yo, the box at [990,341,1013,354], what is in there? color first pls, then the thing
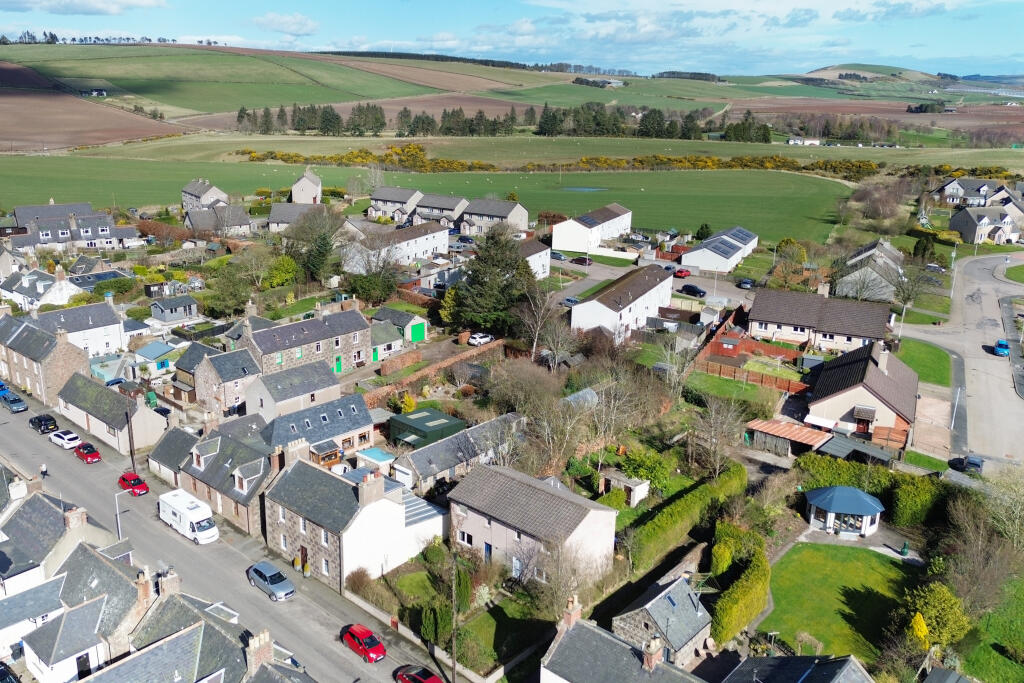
blue vehicle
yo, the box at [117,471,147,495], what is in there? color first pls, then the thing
red car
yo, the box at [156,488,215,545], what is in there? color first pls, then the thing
white camper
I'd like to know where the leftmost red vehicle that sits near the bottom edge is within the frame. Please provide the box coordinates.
[339,623,385,662]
